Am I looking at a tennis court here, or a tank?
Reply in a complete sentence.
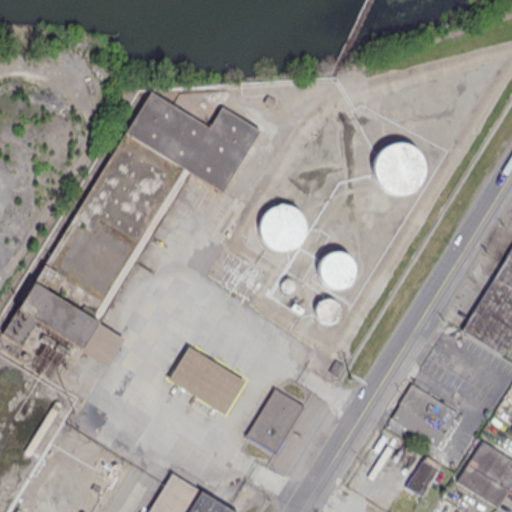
The one in the frame is a tank.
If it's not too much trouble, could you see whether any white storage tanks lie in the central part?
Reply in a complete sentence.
Yes, a white storage tank shows up in the central part.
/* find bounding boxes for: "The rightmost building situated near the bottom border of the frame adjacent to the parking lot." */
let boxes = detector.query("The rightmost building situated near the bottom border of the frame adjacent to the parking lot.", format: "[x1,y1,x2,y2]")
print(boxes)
[456,440,512,506]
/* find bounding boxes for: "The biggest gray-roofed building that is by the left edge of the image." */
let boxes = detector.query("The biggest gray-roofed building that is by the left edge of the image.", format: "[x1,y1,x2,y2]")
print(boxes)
[3,282,100,347]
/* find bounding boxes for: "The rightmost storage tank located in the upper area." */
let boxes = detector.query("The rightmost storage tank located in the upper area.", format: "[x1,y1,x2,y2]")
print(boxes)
[372,142,428,196]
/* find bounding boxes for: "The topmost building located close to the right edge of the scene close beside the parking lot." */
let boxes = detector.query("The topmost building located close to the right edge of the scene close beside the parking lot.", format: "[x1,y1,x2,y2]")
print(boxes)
[462,250,512,361]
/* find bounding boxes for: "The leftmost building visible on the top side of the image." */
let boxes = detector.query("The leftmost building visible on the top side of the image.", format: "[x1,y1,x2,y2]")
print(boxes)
[131,92,258,191]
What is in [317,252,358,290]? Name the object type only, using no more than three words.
storage tank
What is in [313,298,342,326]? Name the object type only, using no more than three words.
storage tank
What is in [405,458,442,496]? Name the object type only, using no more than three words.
house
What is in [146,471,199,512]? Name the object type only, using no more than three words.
building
